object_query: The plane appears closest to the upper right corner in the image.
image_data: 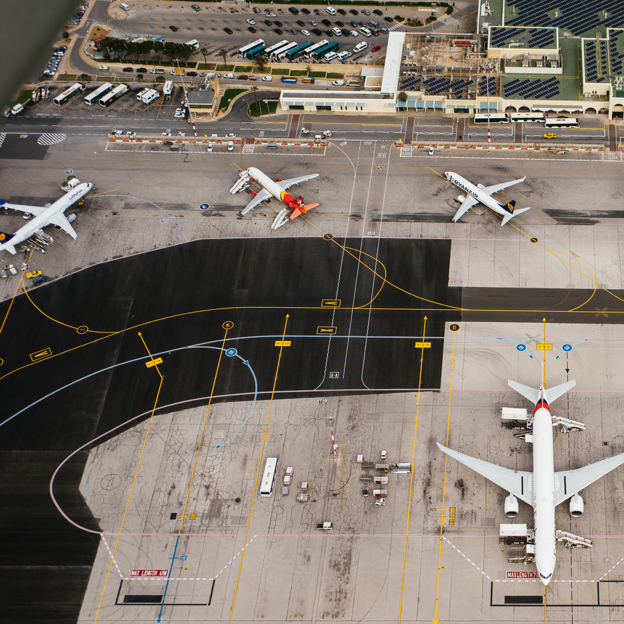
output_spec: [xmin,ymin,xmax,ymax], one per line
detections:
[445,172,527,225]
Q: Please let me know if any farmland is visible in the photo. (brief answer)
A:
No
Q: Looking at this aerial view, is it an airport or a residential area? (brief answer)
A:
airport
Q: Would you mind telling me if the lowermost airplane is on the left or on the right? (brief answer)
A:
right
